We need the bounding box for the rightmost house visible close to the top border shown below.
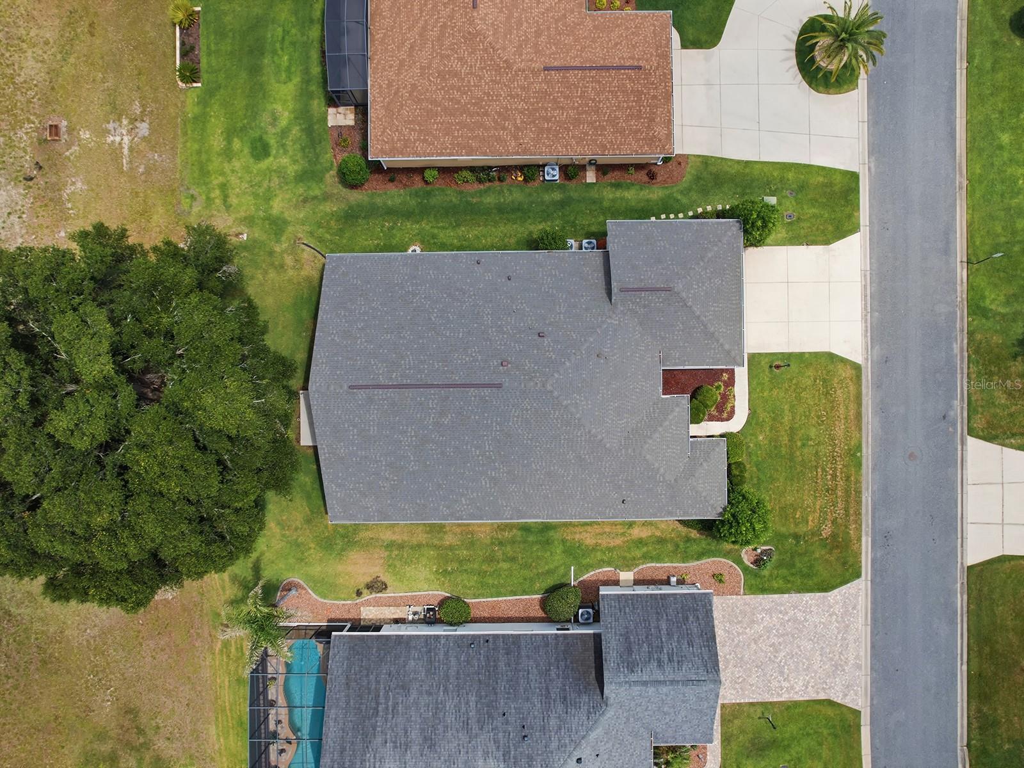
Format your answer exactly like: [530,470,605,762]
[367,0,675,173]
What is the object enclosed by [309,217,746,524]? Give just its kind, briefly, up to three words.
house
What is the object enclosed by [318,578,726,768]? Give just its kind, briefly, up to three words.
house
